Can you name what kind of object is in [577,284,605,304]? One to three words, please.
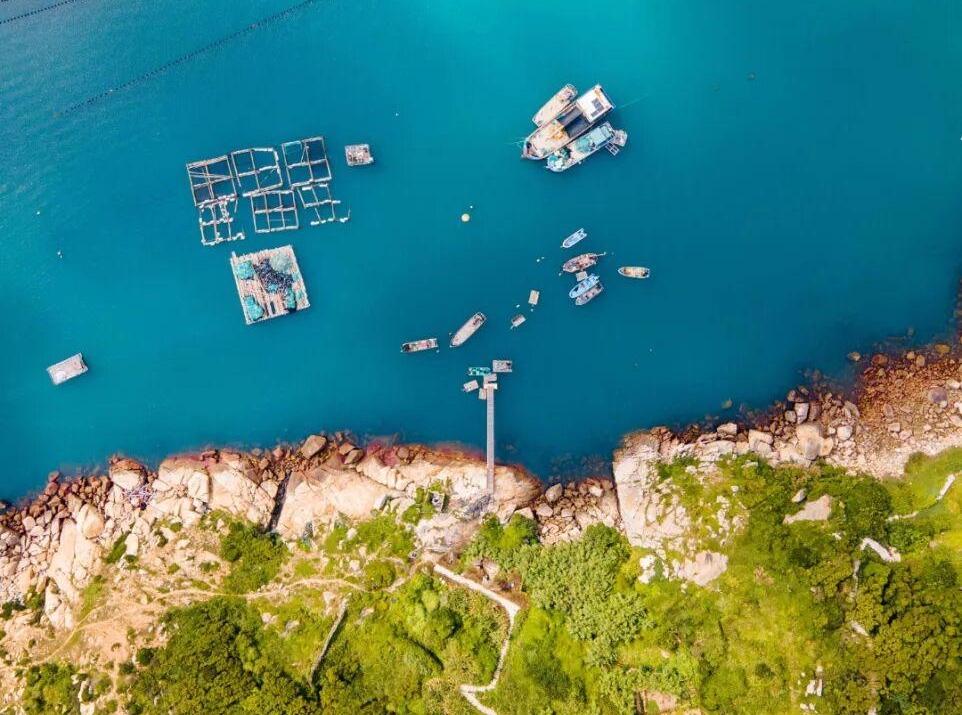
boat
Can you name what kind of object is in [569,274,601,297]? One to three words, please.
boat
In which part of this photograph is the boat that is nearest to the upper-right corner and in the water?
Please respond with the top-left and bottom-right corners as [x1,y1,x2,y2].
[615,128,629,148]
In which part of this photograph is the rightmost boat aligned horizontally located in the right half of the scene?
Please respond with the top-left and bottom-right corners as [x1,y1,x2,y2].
[618,266,652,278]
